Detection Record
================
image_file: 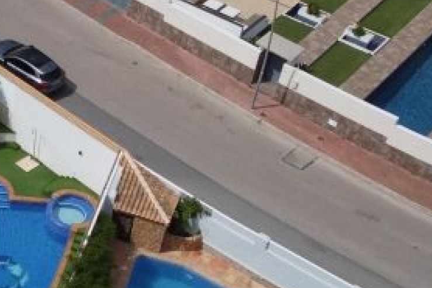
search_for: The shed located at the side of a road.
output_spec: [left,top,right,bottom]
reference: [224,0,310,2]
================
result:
[112,152,179,266]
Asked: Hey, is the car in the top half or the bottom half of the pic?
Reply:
top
